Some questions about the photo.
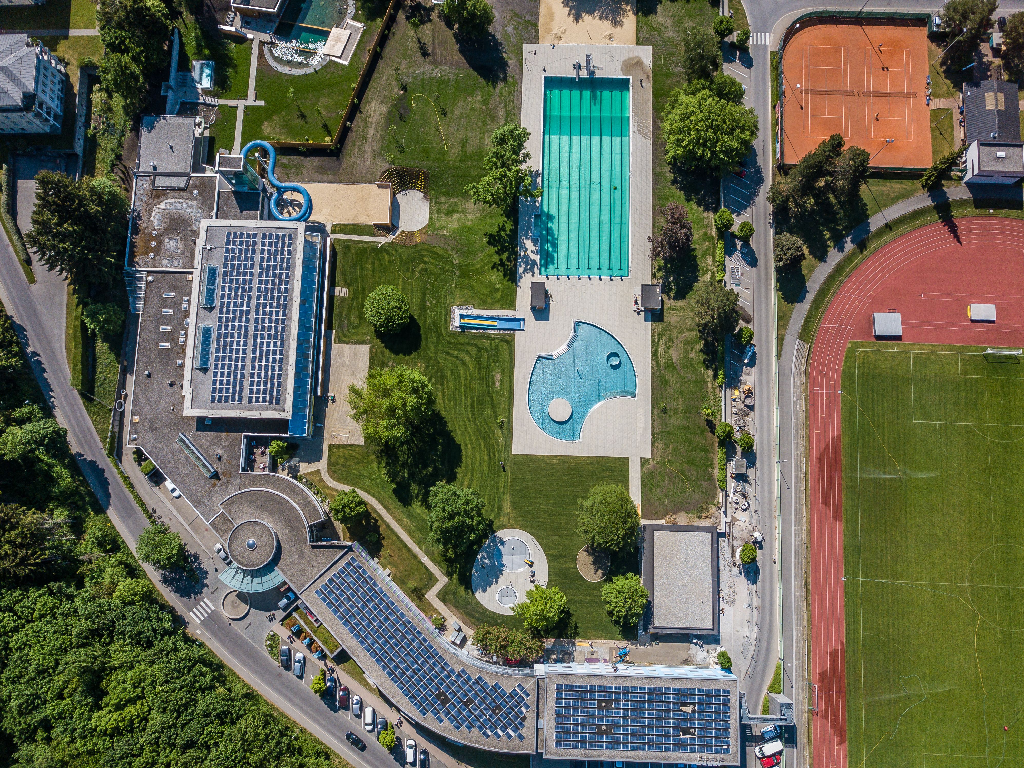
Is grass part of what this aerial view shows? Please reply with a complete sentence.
Yes, grass shows up in the scene.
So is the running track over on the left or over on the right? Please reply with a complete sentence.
The running track sits on the right side.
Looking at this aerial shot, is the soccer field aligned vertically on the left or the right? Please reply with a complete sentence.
The soccer field aligned vertically is on the right side of the image.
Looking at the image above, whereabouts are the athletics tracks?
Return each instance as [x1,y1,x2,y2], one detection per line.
[809,216,1024,768]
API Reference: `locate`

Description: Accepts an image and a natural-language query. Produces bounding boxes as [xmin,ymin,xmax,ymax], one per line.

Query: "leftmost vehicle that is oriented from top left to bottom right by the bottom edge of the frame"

[344,729,368,753]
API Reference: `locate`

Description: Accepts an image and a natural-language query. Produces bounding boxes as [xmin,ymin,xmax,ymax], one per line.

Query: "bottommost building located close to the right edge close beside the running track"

[956,140,1024,188]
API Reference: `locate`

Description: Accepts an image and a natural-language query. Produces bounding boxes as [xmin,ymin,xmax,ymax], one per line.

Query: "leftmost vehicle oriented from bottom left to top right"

[276,590,297,609]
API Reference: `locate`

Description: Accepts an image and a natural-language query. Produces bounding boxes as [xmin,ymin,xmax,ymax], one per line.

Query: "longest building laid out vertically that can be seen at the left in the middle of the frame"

[124,174,353,595]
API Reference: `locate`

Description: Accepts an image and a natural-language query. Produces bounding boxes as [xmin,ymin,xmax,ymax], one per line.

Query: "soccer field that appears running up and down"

[841,341,1024,768]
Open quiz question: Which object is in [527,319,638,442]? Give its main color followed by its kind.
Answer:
blue swimming pool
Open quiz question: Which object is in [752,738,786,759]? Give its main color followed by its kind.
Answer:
white vehicle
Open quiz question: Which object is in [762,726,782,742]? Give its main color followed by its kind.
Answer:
blue car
